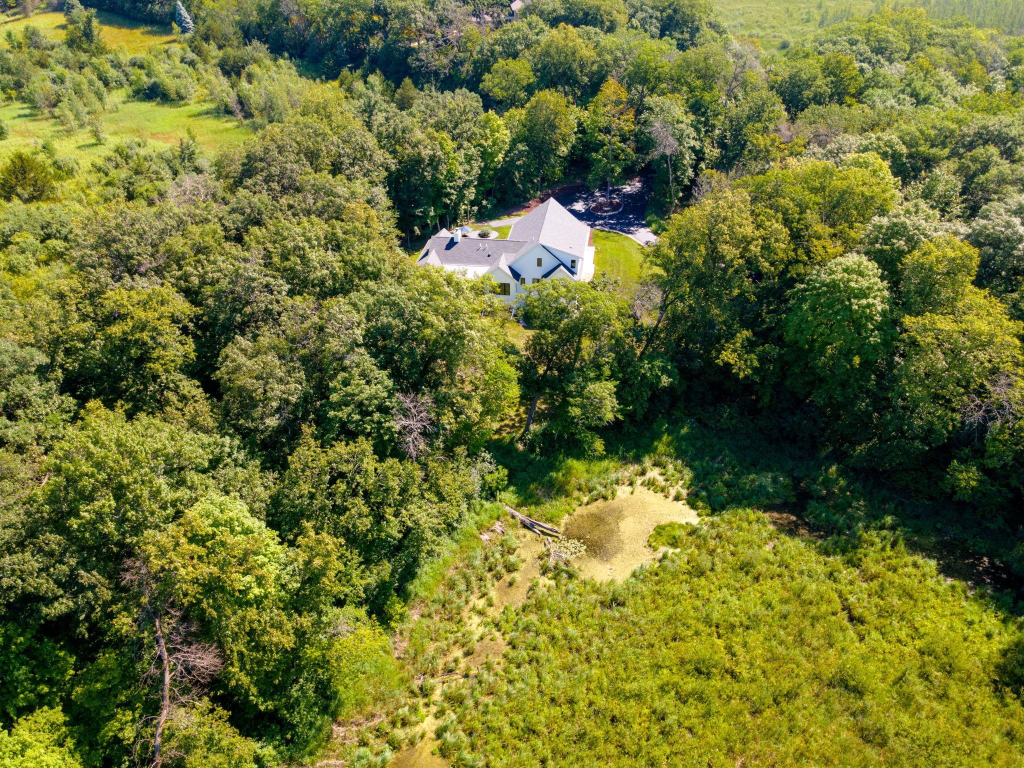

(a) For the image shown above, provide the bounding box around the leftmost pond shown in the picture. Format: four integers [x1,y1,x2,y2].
[558,467,698,581]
